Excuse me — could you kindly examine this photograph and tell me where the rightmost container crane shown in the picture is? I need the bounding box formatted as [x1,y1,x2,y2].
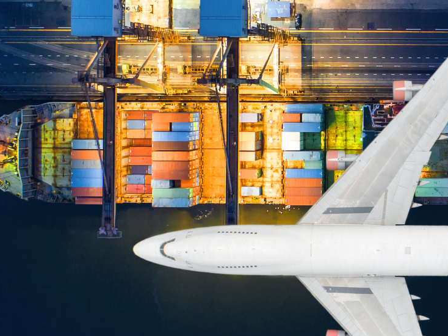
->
[192,0,321,226]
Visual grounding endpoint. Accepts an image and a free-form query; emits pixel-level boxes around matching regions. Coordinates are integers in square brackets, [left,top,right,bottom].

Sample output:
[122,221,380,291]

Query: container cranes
[192,0,321,226]
[69,0,208,236]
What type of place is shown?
port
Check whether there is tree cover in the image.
No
